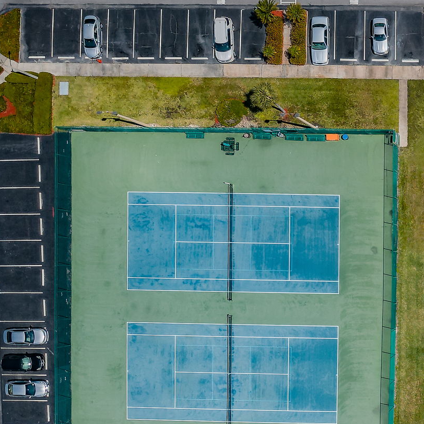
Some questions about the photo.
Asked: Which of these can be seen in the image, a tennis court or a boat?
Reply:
tennis court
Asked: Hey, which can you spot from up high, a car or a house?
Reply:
car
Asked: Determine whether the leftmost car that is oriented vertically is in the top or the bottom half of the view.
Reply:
top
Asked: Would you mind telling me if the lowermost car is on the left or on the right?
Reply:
left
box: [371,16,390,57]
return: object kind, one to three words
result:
car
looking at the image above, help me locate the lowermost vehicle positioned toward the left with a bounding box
[5,379,52,399]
